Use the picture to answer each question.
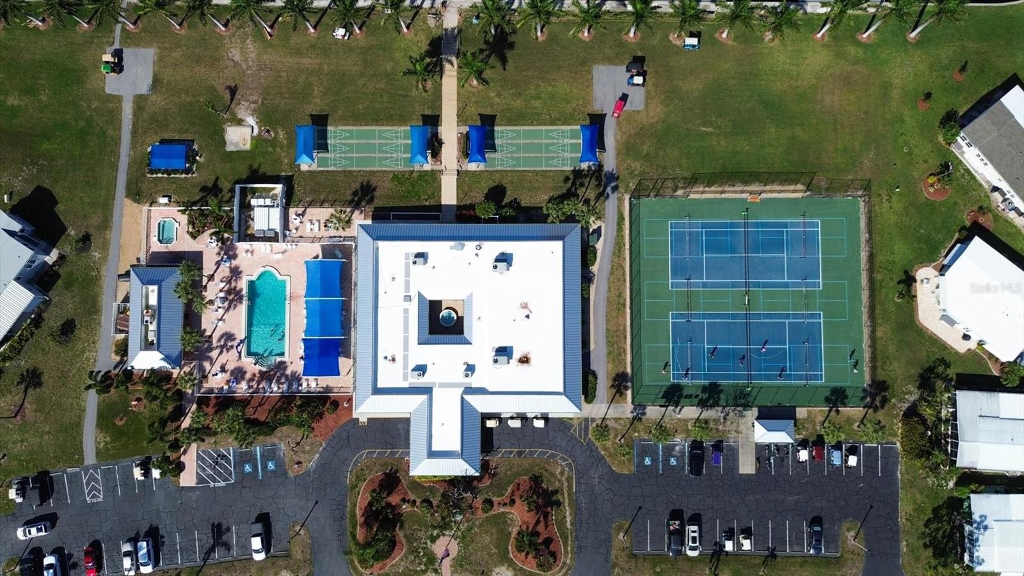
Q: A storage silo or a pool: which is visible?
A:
pool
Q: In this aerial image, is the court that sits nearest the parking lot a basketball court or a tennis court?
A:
tennis court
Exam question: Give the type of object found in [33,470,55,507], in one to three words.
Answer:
truck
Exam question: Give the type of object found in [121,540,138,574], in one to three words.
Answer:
car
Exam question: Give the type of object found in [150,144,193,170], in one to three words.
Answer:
building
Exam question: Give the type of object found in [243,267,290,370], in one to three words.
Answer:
swimming pool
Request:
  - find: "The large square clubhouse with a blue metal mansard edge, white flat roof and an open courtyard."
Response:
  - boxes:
[355,223,582,476]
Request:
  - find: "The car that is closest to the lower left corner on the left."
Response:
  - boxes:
[16,553,36,576]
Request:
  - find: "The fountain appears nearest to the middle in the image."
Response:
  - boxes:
[439,308,457,327]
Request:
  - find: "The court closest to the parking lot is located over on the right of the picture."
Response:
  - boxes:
[630,198,866,406]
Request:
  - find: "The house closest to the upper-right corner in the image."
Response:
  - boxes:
[948,85,1024,227]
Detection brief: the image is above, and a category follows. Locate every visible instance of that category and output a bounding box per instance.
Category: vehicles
[33,470,55,507]
[151,464,165,479]
[843,450,857,468]
[627,76,645,87]
[611,97,625,118]
[250,523,267,559]
[16,553,36,576]
[686,522,701,555]
[689,440,705,477]
[136,537,156,572]
[738,533,751,551]
[121,540,138,574]
[9,482,25,501]
[808,519,824,552]
[42,553,61,576]
[484,417,500,427]
[17,520,53,540]
[506,417,522,427]
[135,461,150,480]
[722,533,733,552]
[680,38,699,49]
[809,443,823,464]
[83,544,101,575]
[335,28,351,42]
[103,54,121,65]
[531,417,546,427]
[624,62,643,73]
[794,445,807,463]
[827,445,841,465]
[667,518,683,556]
